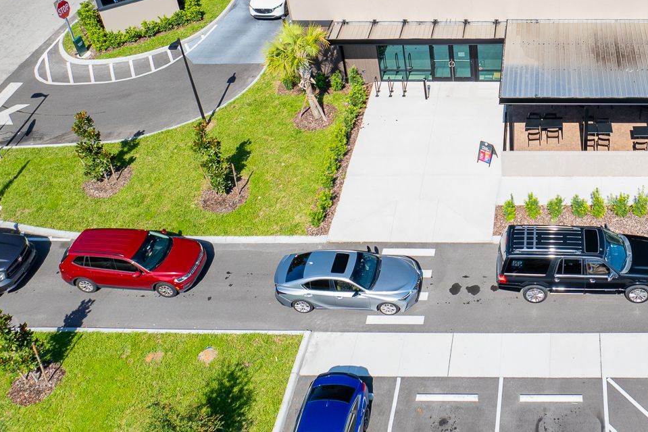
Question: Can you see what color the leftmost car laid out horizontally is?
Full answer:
From above, the leftmost car laid out horizontally appears red.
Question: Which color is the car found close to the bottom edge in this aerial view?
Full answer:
The car found close to the bottom edge looks blue in the image.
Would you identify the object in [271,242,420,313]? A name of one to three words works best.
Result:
car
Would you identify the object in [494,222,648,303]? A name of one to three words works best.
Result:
car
